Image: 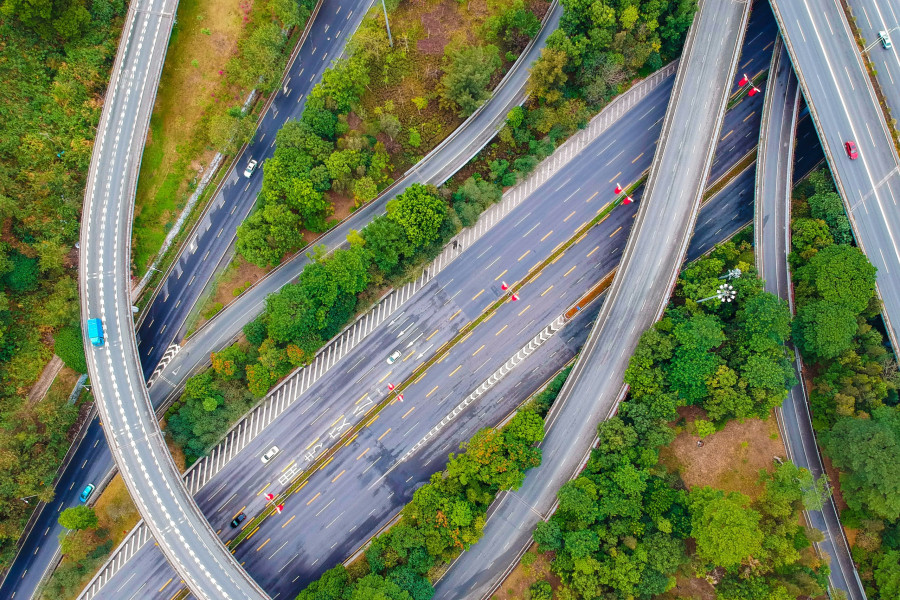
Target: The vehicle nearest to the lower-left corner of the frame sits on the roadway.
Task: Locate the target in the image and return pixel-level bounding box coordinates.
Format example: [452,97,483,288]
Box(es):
[79,482,95,503]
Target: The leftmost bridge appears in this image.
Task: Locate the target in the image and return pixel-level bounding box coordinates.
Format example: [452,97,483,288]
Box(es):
[80,0,278,600]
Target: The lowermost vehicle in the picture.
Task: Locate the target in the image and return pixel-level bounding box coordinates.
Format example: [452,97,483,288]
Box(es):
[229,510,247,529]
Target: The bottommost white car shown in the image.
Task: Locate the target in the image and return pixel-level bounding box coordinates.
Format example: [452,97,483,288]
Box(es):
[261,445,279,463]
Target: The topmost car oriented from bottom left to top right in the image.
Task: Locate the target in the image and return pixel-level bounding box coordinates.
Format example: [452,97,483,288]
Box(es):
[243,159,258,177]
